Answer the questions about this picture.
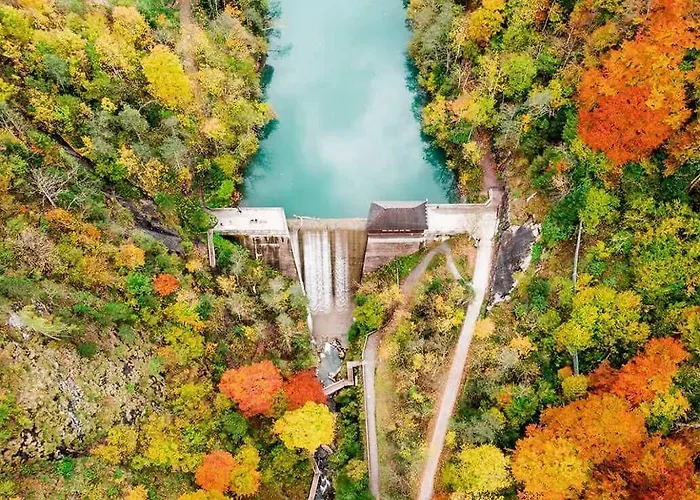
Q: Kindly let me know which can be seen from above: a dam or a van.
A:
dam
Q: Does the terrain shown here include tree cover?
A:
Yes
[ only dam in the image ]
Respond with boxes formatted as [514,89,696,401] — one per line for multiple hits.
[208,186,489,350]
